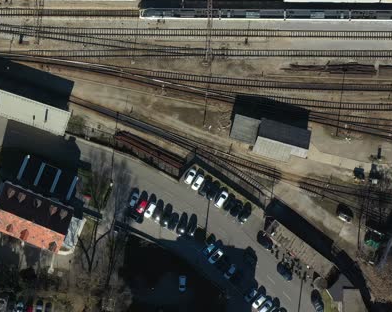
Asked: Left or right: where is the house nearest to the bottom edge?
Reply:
right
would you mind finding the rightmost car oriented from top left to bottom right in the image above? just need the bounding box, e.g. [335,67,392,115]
[339,207,352,224]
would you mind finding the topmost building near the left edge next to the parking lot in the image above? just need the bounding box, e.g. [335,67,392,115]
[0,89,71,136]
